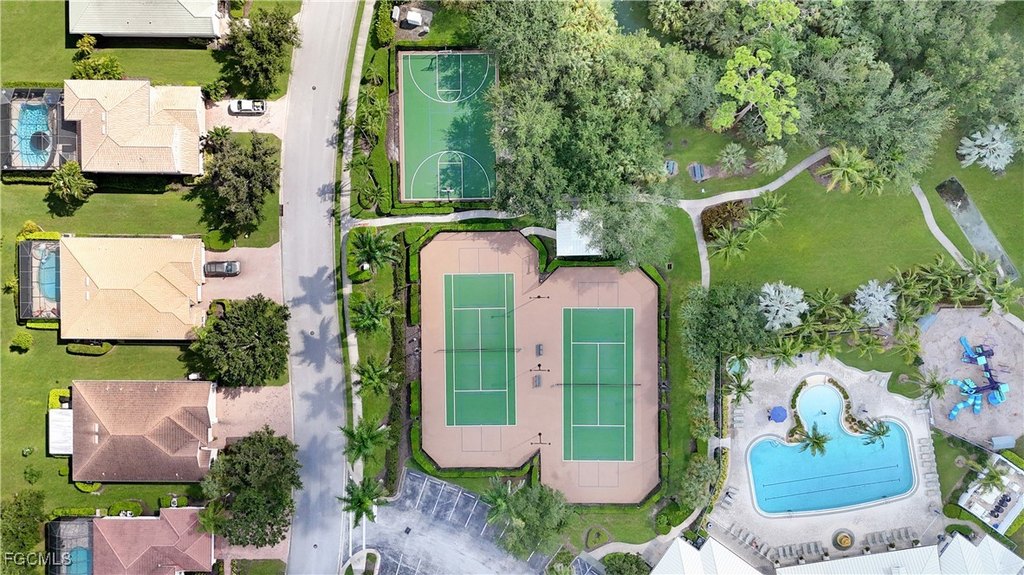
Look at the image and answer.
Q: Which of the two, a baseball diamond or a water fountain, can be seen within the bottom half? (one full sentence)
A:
Visible within the bottom half is a water fountain.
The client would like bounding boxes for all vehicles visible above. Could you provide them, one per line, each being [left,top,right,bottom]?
[205,261,238,276]
[227,98,267,114]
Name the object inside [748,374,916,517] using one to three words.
swimming pool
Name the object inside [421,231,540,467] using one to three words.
tennis court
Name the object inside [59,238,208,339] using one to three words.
house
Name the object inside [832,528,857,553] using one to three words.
fountain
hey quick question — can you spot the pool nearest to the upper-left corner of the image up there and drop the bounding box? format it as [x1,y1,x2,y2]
[17,102,53,169]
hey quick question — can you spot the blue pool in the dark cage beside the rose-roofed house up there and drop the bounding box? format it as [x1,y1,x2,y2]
[66,545,93,575]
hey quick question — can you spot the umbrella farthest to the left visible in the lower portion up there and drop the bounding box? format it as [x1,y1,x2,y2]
[769,405,787,423]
